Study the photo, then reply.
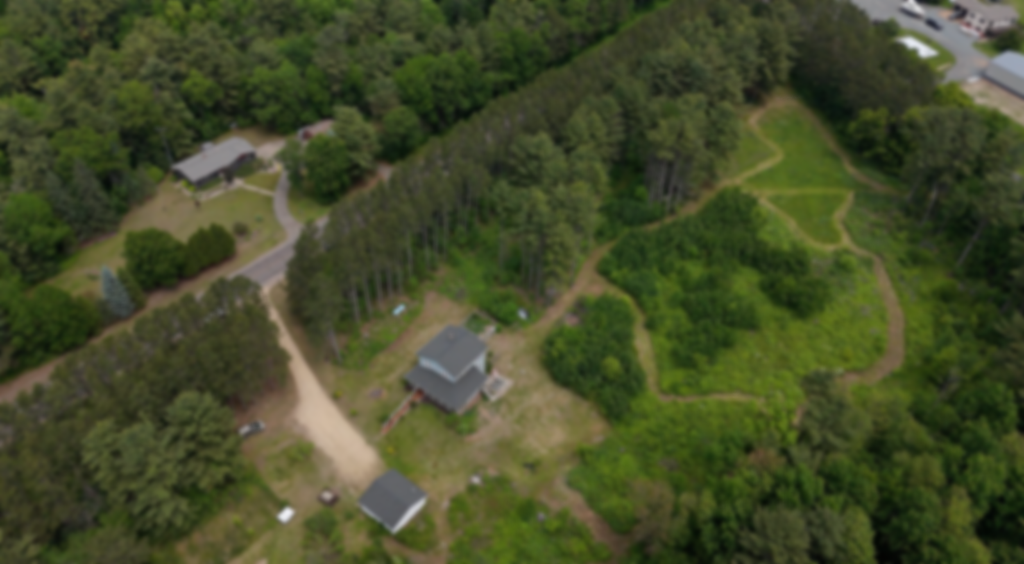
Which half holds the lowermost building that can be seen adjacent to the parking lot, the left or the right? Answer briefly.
right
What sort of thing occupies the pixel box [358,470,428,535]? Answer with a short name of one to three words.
building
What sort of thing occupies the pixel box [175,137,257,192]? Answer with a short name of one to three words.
house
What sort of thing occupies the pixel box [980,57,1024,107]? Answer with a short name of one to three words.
building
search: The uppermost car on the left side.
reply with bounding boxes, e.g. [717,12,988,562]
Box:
[237,419,264,438]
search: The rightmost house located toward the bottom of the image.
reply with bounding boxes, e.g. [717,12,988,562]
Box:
[403,324,489,418]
